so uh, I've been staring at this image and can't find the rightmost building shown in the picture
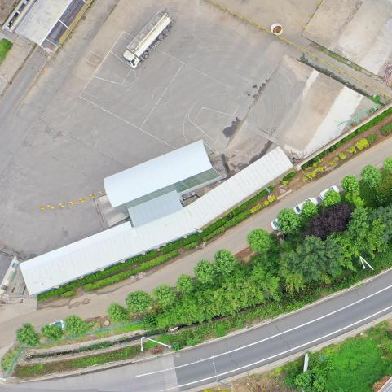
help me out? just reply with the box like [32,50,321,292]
[185,147,296,230]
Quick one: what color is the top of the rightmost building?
white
